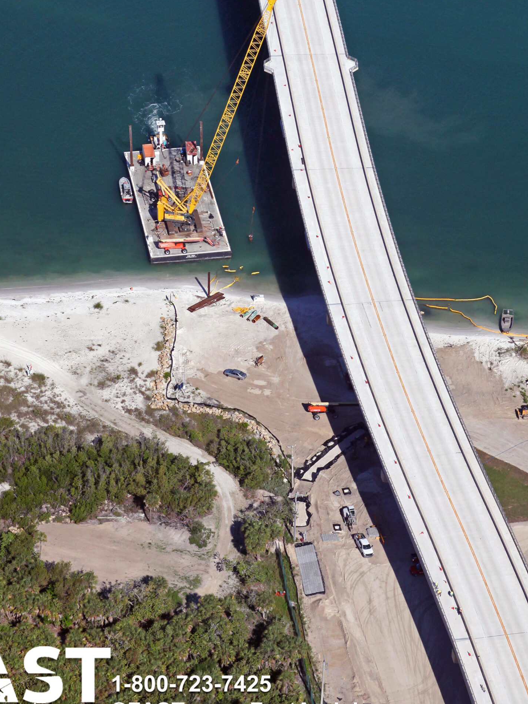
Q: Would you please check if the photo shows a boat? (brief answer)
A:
Yes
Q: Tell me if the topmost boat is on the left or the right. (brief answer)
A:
left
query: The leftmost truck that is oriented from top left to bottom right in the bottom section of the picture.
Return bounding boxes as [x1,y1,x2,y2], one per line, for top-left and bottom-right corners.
[352,534,374,560]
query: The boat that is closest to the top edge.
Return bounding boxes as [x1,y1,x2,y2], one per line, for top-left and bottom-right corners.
[148,109,173,148]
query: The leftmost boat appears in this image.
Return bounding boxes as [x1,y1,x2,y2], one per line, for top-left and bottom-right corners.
[119,174,134,205]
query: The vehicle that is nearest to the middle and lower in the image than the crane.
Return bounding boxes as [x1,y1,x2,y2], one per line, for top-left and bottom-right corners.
[224,368,248,380]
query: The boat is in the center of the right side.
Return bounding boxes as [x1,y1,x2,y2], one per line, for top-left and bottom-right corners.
[501,307,514,334]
